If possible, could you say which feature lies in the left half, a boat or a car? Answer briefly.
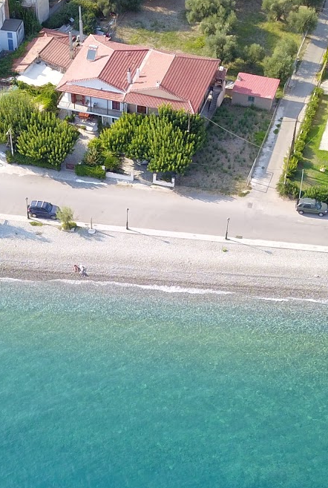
car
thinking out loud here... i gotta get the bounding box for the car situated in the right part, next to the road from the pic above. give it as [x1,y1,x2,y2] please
[294,197,327,217]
